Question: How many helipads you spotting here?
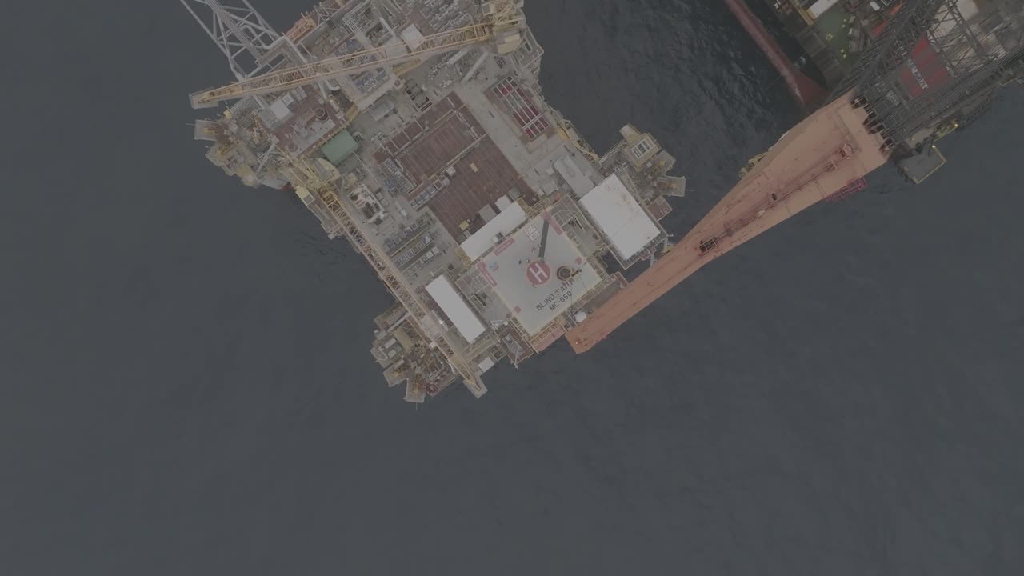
1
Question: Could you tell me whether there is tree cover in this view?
No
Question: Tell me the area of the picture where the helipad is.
center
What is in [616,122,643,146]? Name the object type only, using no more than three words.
house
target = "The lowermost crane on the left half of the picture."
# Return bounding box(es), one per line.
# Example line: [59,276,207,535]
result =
[274,151,477,389]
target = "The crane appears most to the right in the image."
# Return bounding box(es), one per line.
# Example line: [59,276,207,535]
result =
[565,0,1024,353]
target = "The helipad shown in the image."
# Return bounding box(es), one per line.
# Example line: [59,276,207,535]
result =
[471,204,608,341]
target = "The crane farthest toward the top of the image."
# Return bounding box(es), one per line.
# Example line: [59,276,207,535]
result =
[195,0,525,104]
